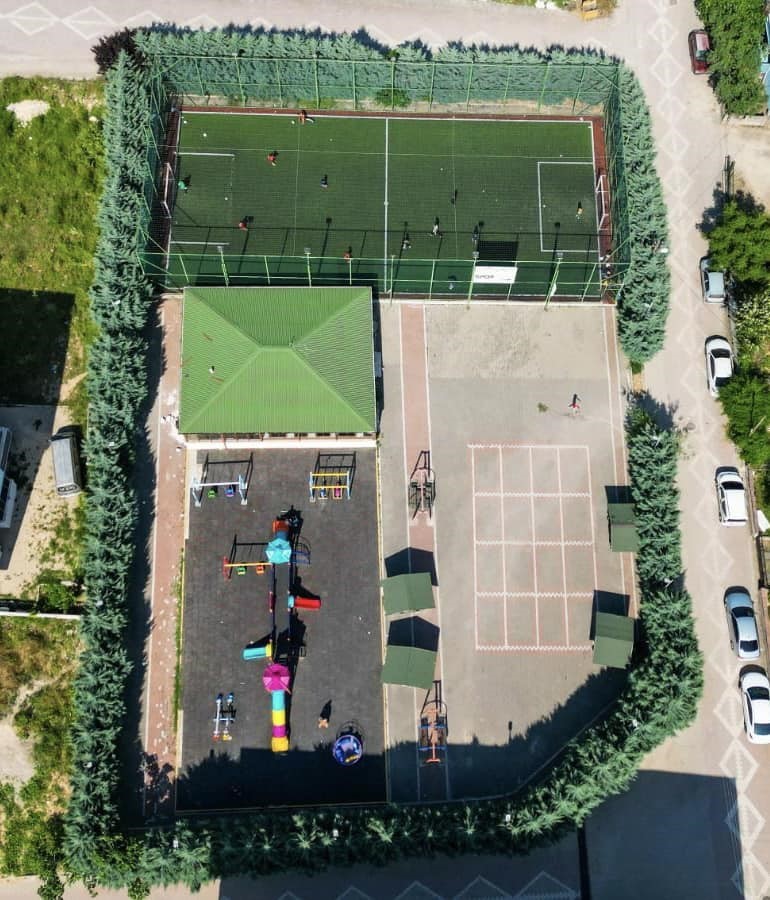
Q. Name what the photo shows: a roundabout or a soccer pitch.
soccer pitch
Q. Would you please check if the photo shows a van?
Yes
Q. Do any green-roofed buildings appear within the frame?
Yes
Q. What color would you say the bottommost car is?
white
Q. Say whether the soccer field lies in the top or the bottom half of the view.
top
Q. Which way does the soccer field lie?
horizontally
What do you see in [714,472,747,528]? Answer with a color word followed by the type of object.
white car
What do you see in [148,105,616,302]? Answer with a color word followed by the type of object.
green soccer field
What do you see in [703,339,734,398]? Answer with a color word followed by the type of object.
white car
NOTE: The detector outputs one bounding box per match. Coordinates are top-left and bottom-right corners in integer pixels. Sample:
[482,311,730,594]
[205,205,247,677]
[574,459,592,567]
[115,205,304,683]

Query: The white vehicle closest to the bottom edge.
[738,674,770,744]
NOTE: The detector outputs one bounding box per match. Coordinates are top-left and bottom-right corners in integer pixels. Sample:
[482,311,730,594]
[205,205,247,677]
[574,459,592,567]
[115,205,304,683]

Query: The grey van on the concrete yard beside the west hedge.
[47,435,84,503]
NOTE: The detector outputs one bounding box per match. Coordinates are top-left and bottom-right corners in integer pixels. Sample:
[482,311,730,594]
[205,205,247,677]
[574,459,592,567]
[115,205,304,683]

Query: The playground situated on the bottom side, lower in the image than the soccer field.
[222,514,324,752]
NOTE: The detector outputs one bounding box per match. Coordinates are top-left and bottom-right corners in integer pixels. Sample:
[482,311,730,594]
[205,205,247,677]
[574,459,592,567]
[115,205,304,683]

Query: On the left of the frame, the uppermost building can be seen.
[175,286,382,448]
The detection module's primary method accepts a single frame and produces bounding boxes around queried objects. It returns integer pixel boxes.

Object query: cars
[714,472,747,528]
[697,257,726,307]
[724,594,761,662]
[686,29,712,76]
[703,339,734,398]
[738,674,770,744]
